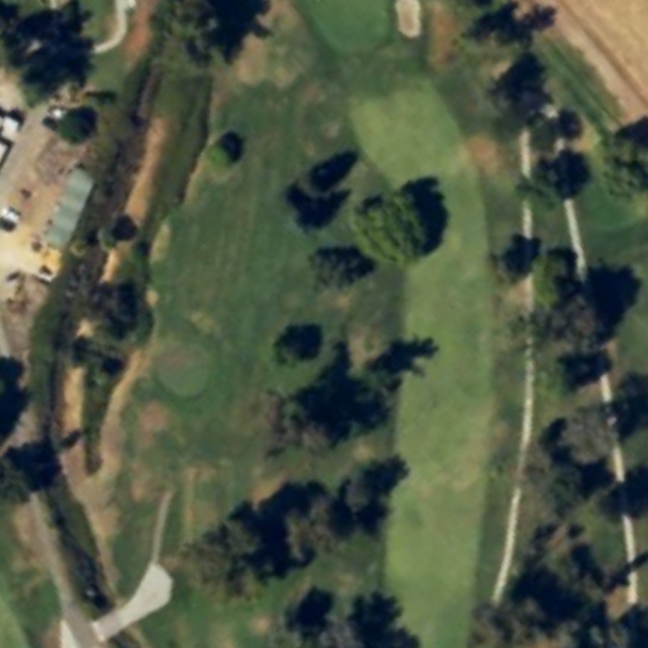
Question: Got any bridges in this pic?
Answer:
Yes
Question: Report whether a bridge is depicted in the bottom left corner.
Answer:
Yes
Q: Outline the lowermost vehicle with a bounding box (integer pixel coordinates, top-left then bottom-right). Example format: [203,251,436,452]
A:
[37,266,58,282]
